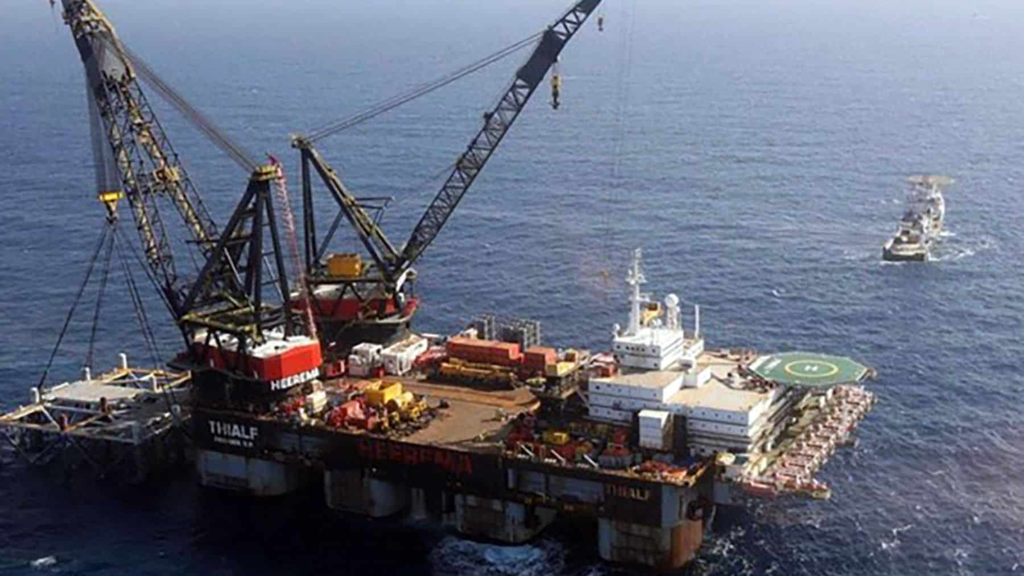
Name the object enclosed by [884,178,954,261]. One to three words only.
ship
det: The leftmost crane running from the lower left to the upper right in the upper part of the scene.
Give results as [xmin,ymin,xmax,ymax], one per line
[282,0,634,328]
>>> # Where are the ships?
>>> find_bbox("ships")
[884,178,954,261]
[192,243,885,567]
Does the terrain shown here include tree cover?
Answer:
No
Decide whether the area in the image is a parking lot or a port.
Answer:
port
